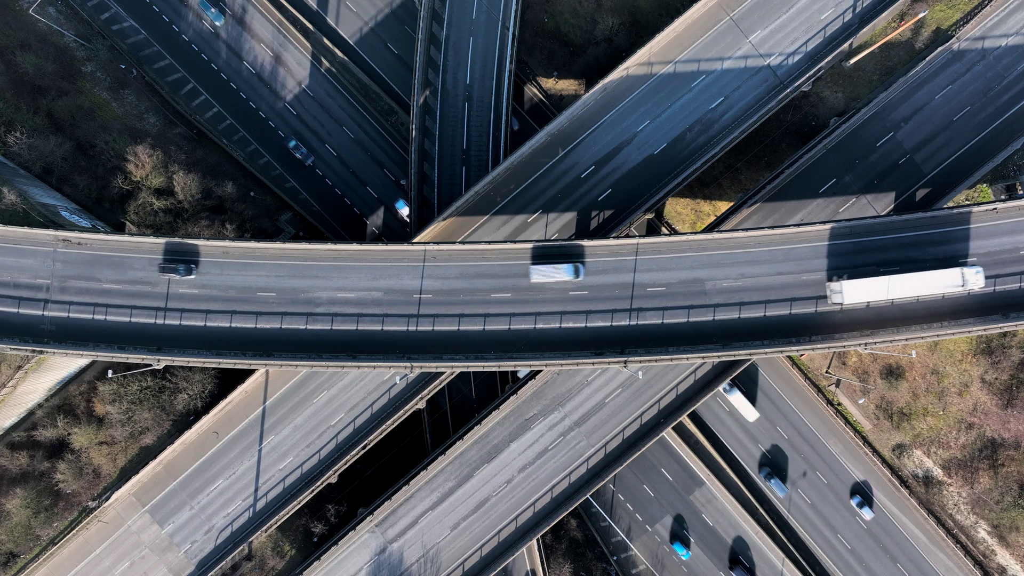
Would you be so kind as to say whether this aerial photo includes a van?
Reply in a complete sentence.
Yes, a van appears in the view.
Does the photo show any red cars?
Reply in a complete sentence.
No, this view has no red car in it.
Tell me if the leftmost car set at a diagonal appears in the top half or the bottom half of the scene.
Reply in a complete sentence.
You can find the leftmost car set at a diagonal in the top half.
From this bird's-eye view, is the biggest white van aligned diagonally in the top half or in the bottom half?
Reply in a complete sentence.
The biggest white van aligned diagonally sits in the bottom half of the picture.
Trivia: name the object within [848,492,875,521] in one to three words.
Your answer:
car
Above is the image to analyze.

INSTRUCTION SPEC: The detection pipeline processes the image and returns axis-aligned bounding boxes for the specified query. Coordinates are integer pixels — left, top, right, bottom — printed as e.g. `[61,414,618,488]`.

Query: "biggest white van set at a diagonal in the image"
[718,379,762,424]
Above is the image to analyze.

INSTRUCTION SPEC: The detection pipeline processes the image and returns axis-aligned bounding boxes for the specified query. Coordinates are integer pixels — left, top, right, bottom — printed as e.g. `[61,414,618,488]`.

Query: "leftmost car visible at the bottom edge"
[668,535,692,560]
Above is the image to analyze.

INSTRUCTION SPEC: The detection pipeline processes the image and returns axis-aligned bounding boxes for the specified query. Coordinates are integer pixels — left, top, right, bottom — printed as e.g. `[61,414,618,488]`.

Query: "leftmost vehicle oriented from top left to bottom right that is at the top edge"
[197,0,228,28]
